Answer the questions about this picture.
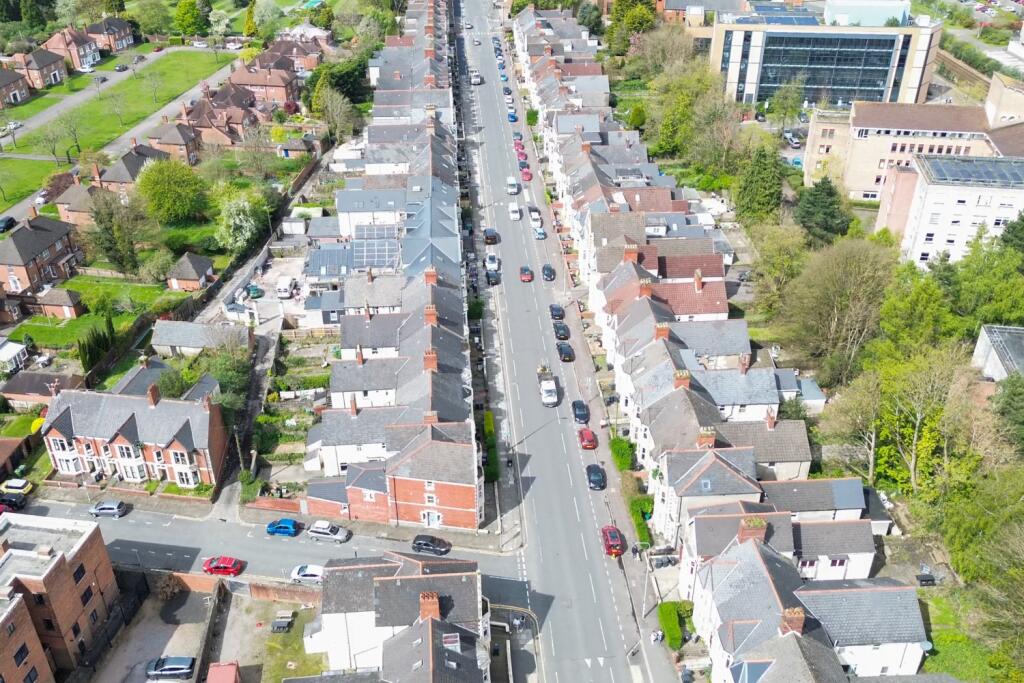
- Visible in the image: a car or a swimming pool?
car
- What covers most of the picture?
buildings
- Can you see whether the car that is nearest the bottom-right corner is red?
Yes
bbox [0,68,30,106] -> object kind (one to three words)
house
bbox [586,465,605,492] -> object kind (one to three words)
car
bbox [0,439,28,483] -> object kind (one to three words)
building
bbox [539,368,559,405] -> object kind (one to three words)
vehicle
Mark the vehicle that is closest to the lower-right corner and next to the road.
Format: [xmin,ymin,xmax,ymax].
[600,526,623,557]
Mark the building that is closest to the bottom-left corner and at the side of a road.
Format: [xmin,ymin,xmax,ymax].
[0,508,118,683]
